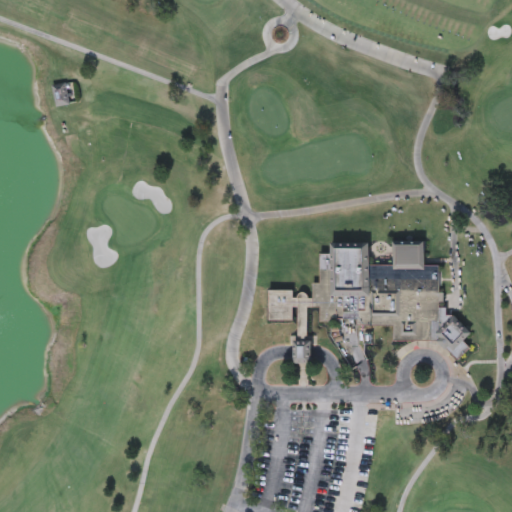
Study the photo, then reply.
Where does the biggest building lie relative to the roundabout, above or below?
below it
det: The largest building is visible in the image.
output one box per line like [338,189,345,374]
[268,242,470,364]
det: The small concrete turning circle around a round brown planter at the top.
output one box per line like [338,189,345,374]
[263,12,299,52]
